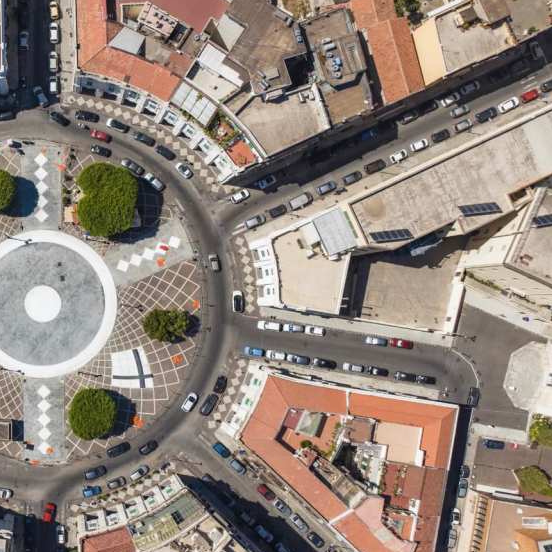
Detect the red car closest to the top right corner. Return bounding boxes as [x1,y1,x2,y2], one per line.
[518,88,539,103]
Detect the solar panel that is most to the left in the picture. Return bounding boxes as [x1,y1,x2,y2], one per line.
[371,228,413,242]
